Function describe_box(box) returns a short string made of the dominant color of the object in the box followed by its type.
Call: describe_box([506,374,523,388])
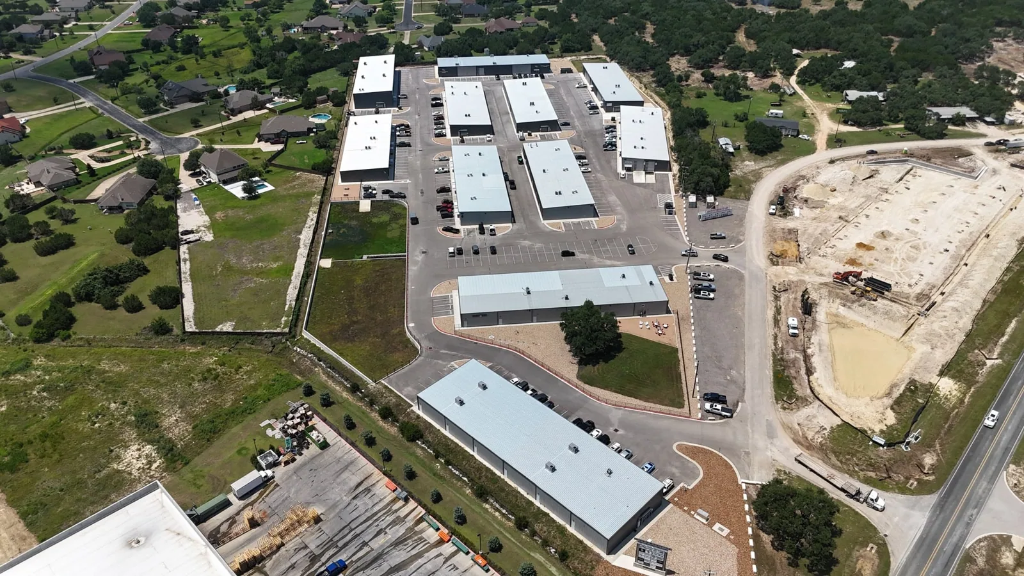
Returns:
white car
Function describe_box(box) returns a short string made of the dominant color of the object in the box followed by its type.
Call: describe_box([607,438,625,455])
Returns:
white car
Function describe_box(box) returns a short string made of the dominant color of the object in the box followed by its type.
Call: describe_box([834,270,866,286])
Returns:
red work vehicle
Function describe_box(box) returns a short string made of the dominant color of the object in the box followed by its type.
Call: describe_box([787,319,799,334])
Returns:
white vehicle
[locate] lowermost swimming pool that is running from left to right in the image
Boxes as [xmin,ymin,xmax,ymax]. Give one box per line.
[232,177,275,198]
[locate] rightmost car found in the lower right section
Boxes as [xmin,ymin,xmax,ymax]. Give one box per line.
[984,411,999,427]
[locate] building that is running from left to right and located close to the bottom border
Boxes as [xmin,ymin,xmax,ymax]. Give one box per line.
[0,480,223,576]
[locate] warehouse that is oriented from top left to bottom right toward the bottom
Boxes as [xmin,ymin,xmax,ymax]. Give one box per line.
[416,361,664,556]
